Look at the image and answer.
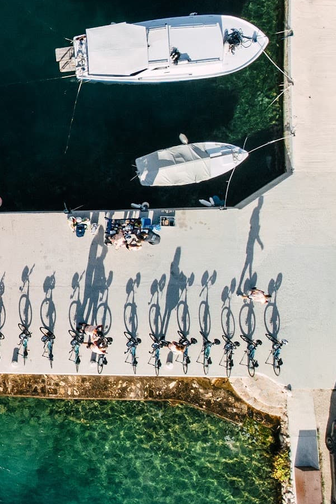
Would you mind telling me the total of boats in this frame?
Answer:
2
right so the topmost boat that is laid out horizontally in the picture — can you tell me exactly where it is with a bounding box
[54,14,271,83]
